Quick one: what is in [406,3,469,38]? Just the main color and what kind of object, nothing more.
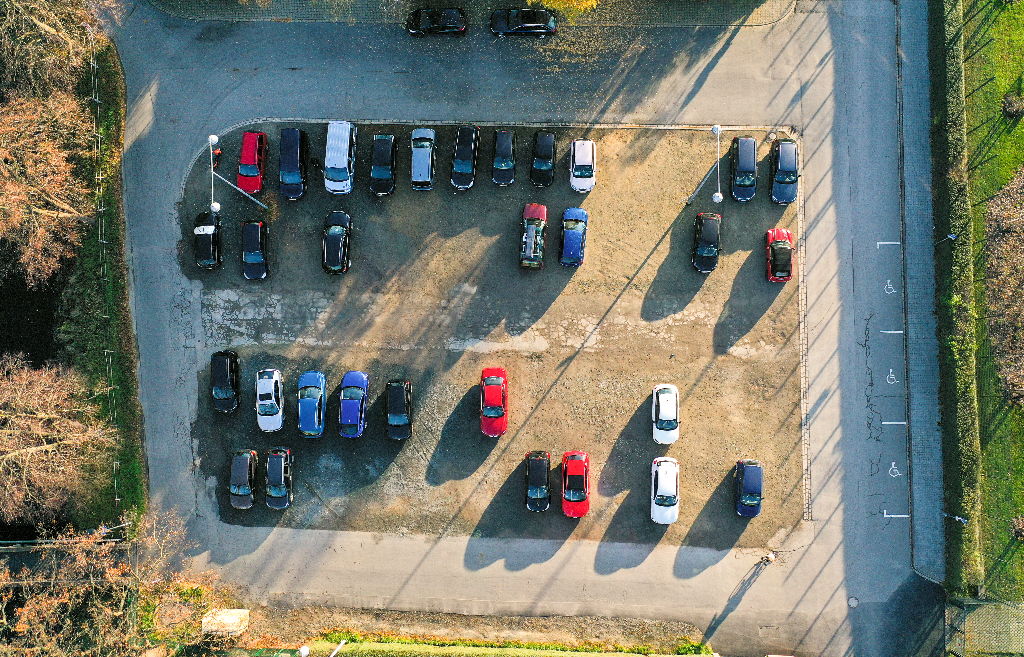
black car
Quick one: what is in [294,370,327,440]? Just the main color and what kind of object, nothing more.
blue car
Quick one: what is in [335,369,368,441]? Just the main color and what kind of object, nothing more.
blue car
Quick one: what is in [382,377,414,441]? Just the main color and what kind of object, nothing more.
black car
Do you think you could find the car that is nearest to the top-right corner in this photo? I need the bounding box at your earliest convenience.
[768,136,802,207]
